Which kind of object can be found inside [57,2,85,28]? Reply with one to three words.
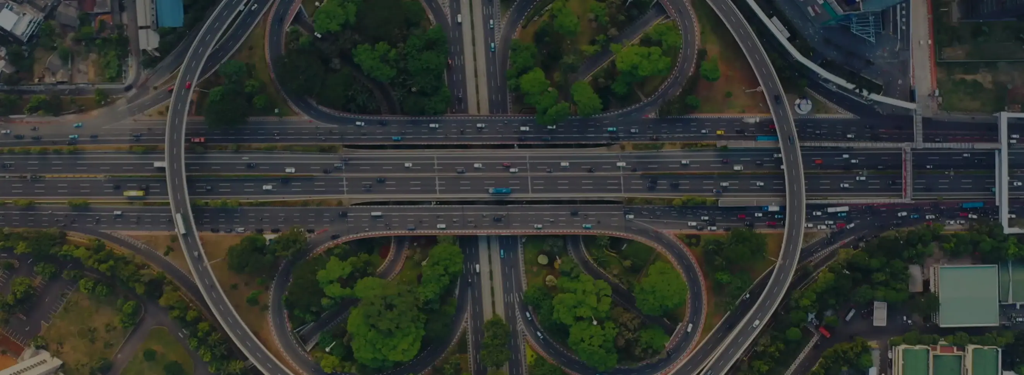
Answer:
house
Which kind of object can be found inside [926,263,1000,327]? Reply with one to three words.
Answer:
building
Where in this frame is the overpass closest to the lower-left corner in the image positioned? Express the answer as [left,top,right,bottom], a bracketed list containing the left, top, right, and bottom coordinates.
[163,0,294,375]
